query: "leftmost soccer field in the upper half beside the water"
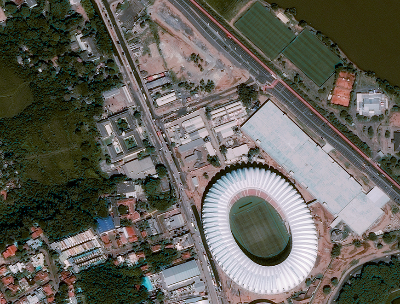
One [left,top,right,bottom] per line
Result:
[233,1,296,57]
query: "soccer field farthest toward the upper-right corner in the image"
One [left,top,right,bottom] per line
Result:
[280,27,343,86]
